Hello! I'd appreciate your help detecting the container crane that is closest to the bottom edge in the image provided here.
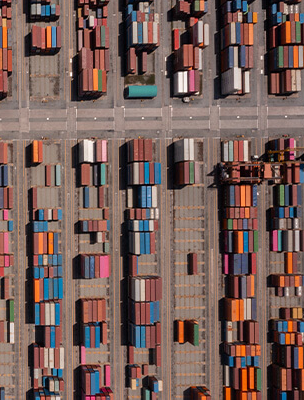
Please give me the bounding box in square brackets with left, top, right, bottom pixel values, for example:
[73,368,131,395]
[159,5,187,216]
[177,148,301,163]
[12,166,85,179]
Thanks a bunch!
[210,163,281,183]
